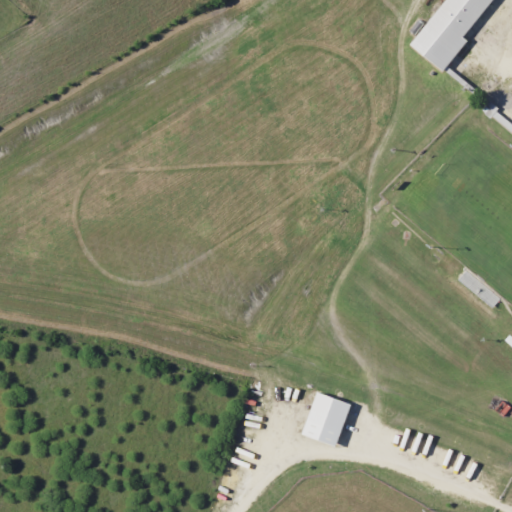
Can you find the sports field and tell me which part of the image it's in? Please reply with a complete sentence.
You can find the sports field in the right area of the picture.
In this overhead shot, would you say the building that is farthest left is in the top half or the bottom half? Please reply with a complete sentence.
Seen from above, the building that is farthest left lies in the bottom half of the view.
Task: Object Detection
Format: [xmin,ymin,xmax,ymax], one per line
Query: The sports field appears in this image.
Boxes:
[387,104,512,313]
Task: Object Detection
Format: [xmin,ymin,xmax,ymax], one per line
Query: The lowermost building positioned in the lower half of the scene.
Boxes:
[302,393,352,447]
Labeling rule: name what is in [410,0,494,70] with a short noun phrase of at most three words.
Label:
barn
